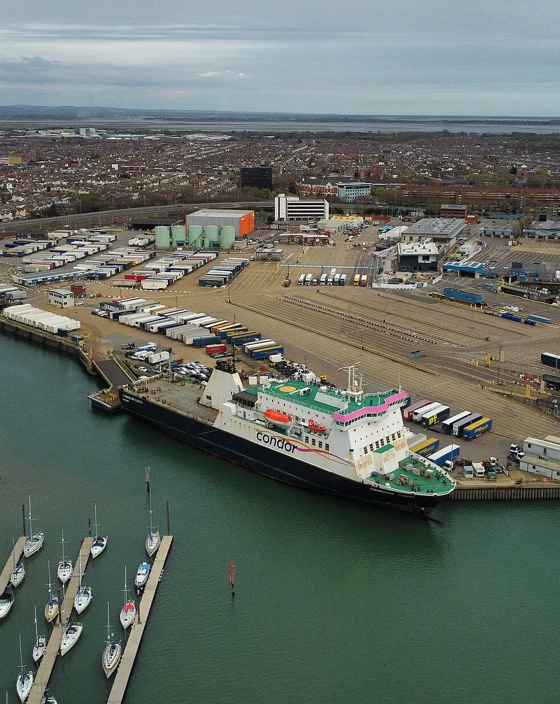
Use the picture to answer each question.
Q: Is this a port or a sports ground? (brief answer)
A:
port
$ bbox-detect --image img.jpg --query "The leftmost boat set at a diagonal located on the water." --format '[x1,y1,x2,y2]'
[0,590,18,616]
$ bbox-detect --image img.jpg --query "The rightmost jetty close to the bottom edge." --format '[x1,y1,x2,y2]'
[107,535,172,704]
